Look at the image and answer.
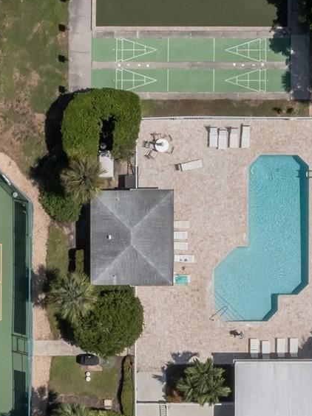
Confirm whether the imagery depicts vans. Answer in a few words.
No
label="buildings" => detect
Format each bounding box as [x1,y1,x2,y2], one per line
[235,361,312,416]
[90,188,174,287]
